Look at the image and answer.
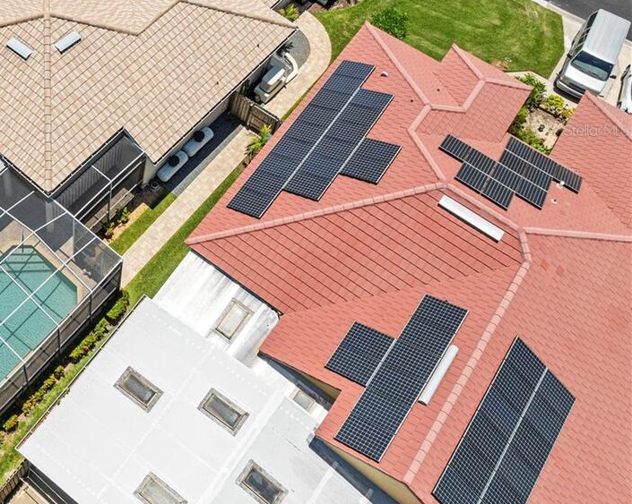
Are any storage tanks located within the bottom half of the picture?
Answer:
No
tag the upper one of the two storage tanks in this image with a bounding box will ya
[183,130,215,164]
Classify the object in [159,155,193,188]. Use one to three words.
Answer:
storage tank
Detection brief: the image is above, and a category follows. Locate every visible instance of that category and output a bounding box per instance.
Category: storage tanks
[159,155,193,188]
[183,130,215,164]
